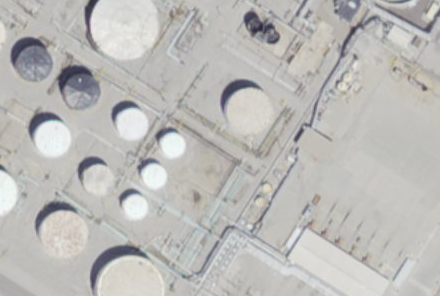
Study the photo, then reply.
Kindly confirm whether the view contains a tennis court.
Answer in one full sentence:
No, the photo shows no tennis court.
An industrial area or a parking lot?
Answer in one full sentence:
What you see here is an industrial area.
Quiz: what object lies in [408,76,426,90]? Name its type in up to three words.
vehicle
